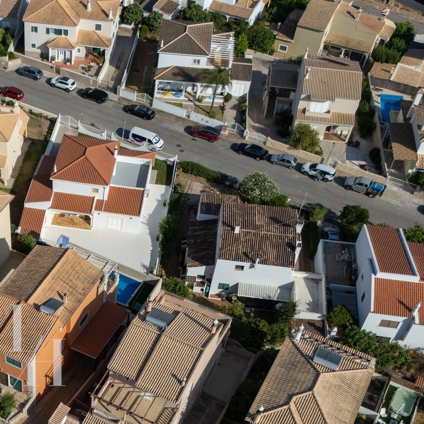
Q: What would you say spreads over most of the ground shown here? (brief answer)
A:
buildings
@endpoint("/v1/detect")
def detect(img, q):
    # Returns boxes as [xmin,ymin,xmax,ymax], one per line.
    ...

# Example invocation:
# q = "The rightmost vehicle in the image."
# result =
[343,174,387,197]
